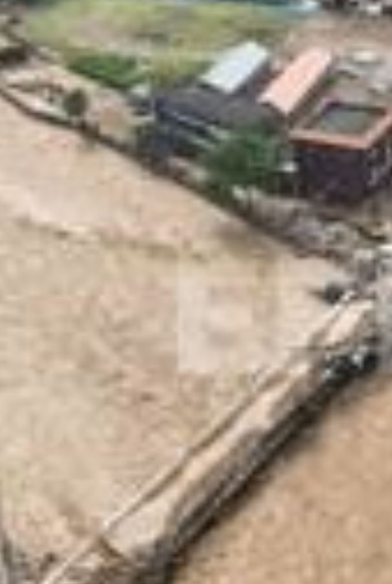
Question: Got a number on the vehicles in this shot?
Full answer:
The count of vehicles is 0.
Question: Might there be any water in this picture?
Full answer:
Yes, there's water in this view.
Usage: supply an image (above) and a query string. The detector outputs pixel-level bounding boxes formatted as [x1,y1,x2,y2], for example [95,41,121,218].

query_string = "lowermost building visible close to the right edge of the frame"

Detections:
[286,93,392,191]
